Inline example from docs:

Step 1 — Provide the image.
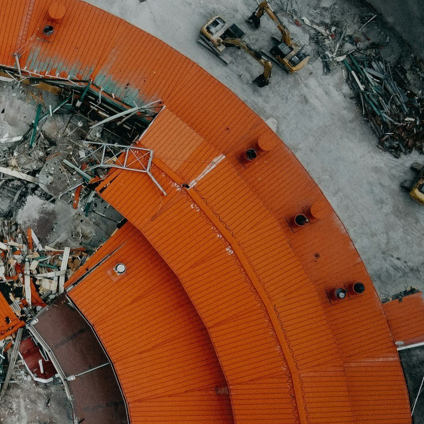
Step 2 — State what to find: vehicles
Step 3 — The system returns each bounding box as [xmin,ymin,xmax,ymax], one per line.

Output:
[186,14,272,88]
[248,0,311,81]
[399,166,424,206]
